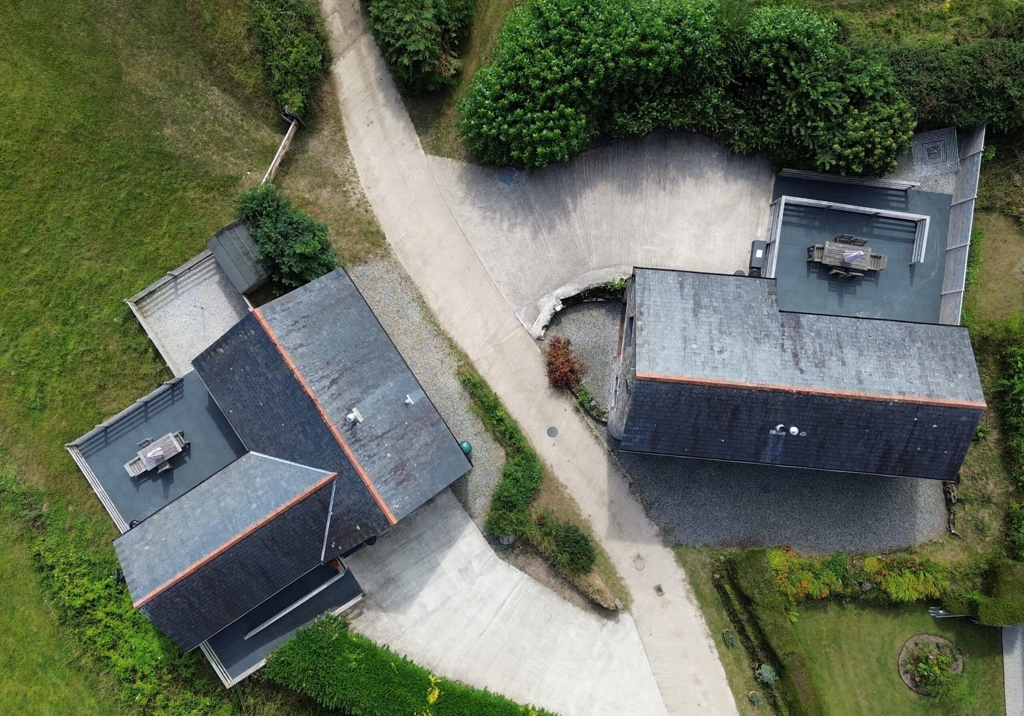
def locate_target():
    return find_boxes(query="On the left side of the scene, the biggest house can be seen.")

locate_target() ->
[113,267,473,653]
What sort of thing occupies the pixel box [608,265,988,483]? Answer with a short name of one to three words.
house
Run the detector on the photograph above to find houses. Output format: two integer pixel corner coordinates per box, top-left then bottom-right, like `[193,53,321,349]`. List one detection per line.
[113,267,473,653]
[608,265,988,483]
